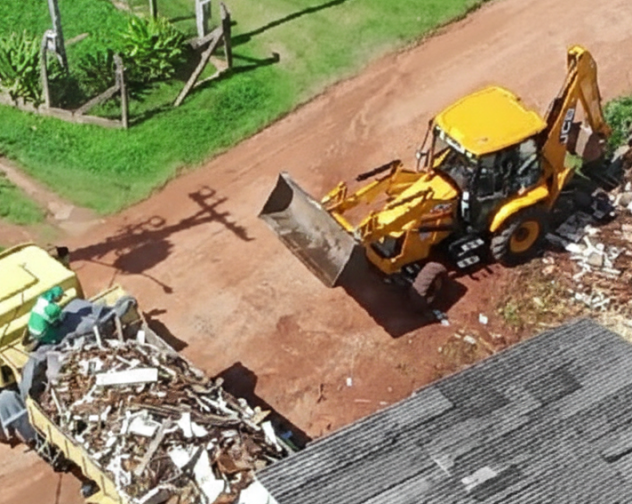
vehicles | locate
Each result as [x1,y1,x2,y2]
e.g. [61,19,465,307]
[256,44,615,303]
[0,236,207,504]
